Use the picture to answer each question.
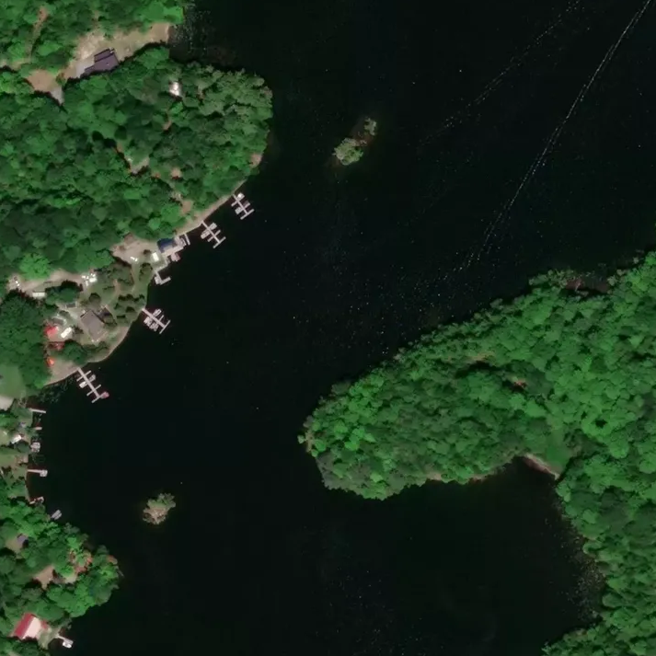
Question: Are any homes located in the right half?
No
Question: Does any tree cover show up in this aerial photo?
Yes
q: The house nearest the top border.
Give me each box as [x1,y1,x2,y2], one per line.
[84,49,119,74]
